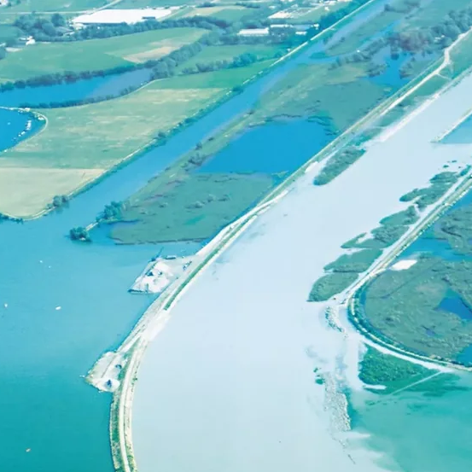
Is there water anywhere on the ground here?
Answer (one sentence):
Yes, there is water in the image.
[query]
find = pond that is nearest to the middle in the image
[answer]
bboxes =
[198,117,330,173]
